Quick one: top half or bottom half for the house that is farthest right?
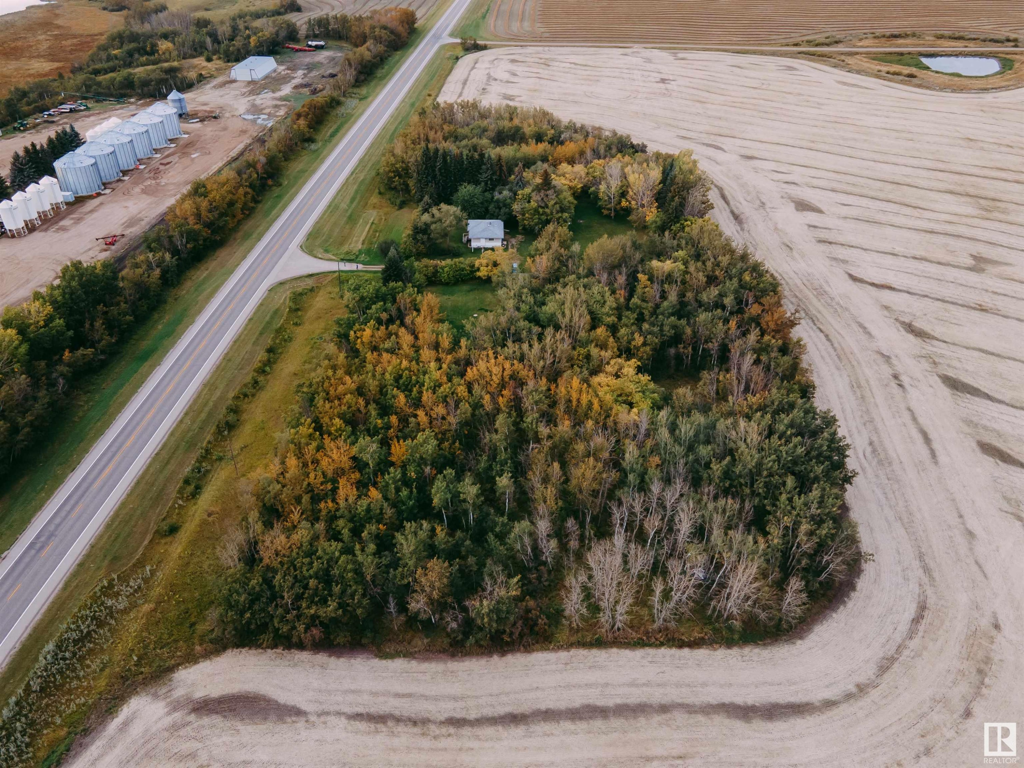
top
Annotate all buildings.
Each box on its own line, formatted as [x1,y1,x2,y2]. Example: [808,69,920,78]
[468,217,505,247]
[229,53,277,81]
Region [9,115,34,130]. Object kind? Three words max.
work vehicle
